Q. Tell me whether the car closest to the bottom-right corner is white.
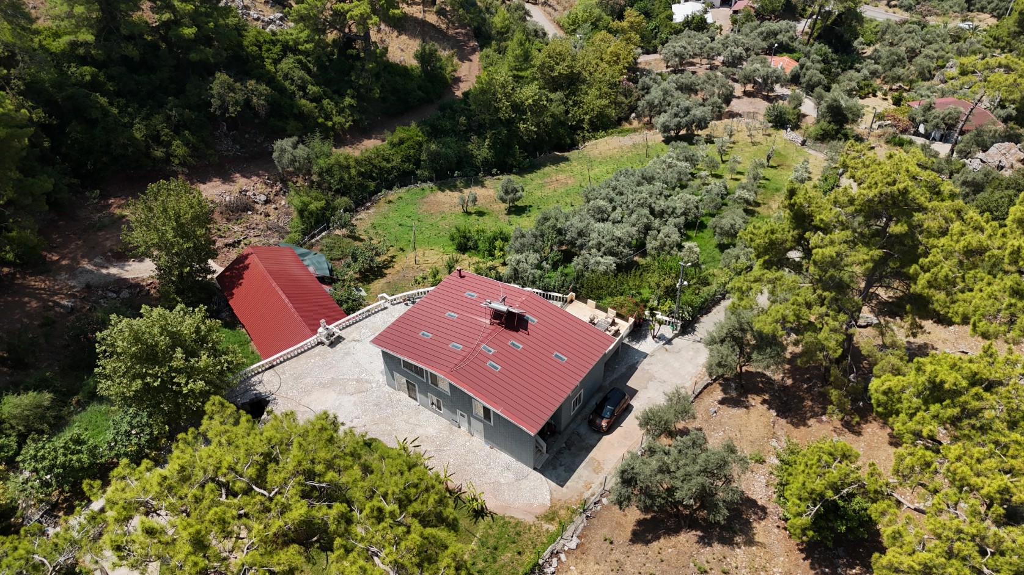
No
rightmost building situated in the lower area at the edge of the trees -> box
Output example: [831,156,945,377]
[370,265,633,469]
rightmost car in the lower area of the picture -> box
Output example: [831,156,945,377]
[591,385,632,433]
